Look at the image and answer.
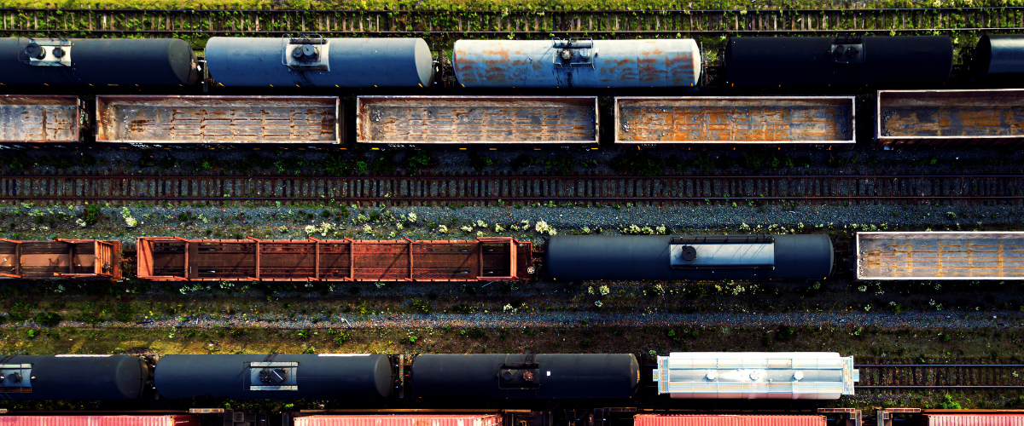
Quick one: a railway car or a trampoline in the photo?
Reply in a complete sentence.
The one in the frame is a railway car.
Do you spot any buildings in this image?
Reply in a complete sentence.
No, there is no building in the image.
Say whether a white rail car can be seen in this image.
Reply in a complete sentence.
Yes, this view includes a white rail car.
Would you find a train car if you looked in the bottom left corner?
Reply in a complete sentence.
Yes, a train car can be seen in the bottom left corner.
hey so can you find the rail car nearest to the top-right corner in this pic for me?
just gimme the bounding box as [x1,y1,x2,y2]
[952,34,1024,90]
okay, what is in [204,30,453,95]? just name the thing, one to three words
rail car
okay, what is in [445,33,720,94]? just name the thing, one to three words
rail car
